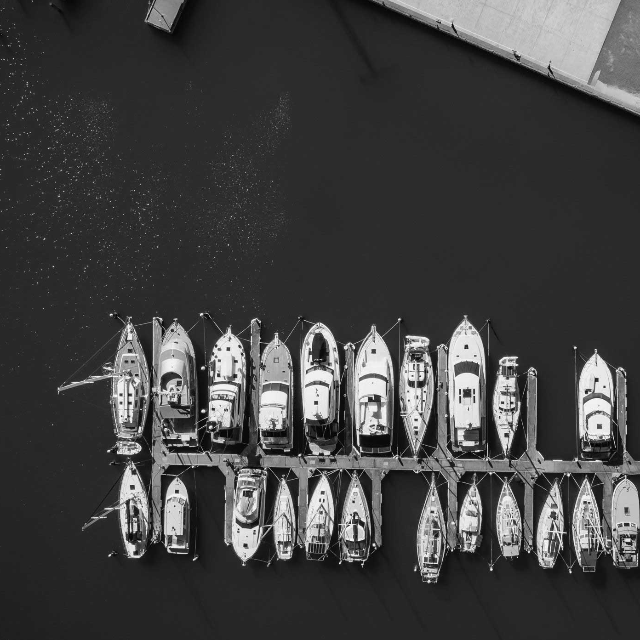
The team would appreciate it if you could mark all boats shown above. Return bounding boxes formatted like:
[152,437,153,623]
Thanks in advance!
[403,336,430,348]
[198,314,250,449]
[355,321,394,456]
[457,475,485,554]
[115,442,141,455]
[56,317,154,457]
[231,467,267,568]
[447,312,487,459]
[493,473,524,564]
[157,317,207,447]
[337,469,372,563]
[400,340,438,459]
[81,459,152,558]
[164,470,193,555]
[533,474,572,569]
[259,470,300,560]
[417,468,448,584]
[578,346,618,458]
[572,473,612,573]
[500,356,519,365]
[301,470,336,561]
[612,473,640,568]
[492,365,530,459]
[301,320,346,456]
[257,321,299,452]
